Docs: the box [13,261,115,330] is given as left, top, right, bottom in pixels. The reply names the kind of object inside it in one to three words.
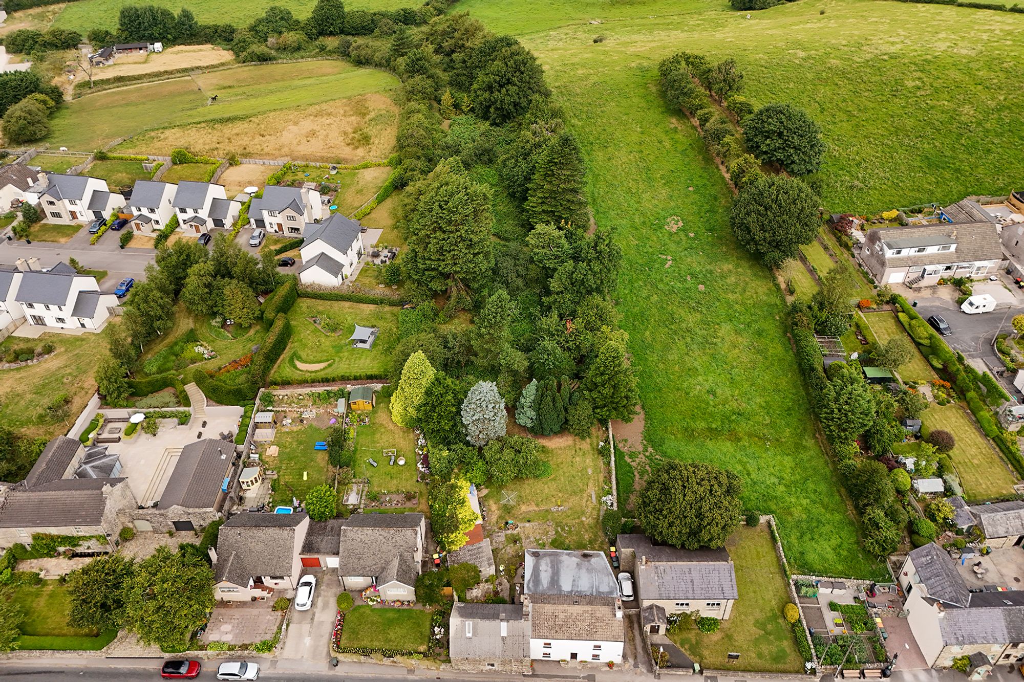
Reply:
house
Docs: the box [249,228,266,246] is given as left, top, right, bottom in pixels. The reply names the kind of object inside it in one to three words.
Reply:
car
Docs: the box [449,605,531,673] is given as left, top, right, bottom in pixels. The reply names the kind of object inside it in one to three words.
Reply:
barn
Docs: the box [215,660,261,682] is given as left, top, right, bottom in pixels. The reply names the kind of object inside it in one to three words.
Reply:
car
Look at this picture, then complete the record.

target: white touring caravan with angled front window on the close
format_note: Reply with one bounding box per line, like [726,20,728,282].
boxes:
[960,293,998,313]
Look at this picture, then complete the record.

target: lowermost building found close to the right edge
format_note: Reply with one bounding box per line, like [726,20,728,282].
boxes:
[907,590,1024,676]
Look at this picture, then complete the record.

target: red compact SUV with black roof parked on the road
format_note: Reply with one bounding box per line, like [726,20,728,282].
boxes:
[160,658,202,679]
